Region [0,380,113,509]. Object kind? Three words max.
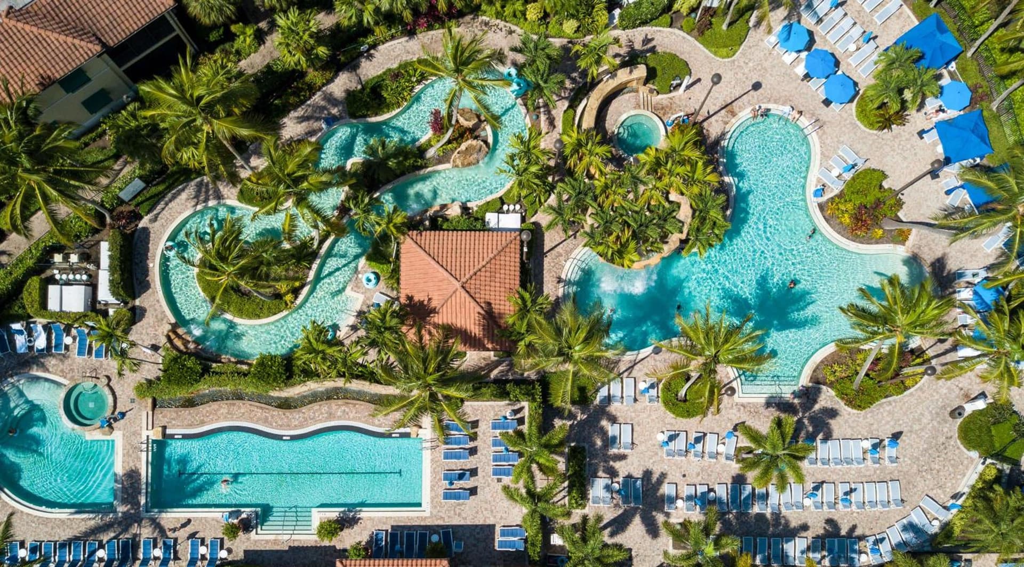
swimming pool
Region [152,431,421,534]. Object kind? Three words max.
swimming pool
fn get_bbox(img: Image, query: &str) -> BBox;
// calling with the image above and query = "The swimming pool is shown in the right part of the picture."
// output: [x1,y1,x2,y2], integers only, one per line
[570,114,931,392]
